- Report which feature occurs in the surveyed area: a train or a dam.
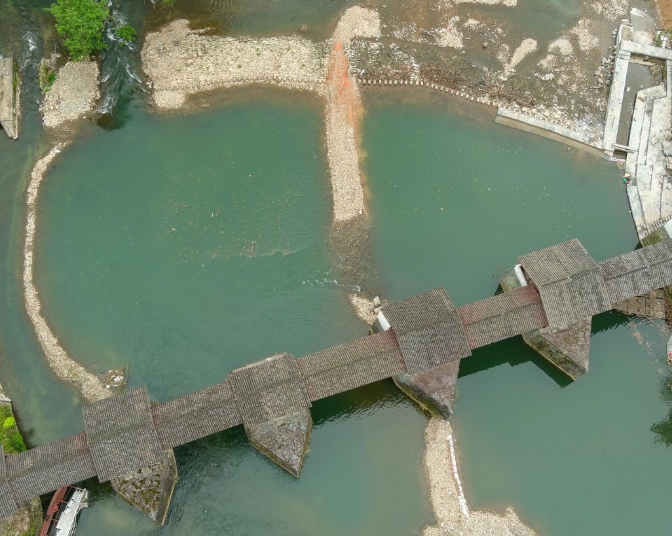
dam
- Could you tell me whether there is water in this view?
Yes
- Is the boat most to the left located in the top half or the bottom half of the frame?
bottom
